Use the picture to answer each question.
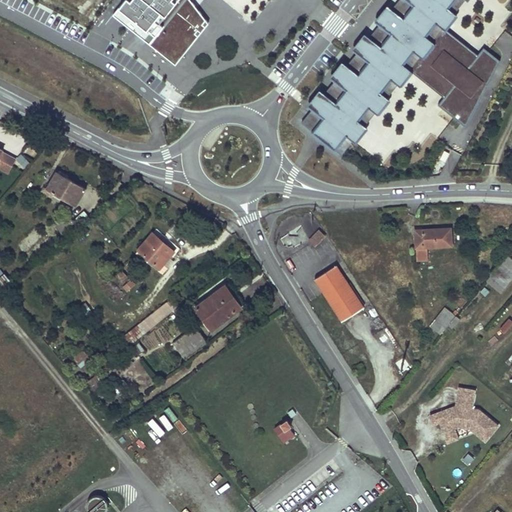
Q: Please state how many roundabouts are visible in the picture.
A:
1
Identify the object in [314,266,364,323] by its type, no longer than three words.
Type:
building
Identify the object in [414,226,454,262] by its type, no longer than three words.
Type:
house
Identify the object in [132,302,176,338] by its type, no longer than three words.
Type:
shed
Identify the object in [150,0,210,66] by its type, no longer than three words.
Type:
building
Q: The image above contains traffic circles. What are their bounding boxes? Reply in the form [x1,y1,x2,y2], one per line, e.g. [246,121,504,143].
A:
[182,107,280,204]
